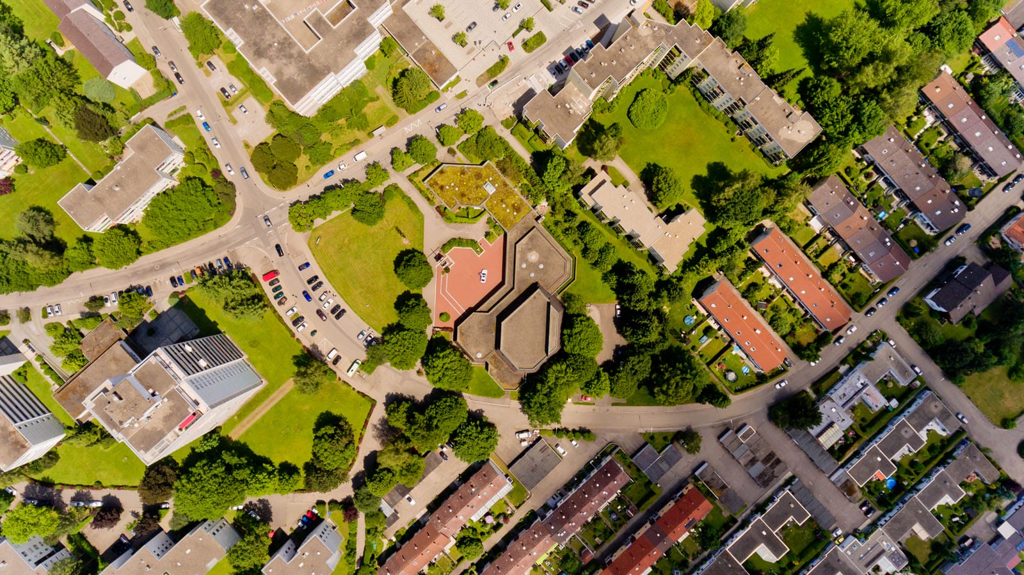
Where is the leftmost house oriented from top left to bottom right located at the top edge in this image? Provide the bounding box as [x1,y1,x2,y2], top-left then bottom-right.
[59,8,145,87]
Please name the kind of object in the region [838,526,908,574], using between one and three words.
house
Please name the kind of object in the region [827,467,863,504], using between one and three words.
building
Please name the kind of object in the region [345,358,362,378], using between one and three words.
vehicle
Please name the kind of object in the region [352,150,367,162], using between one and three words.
vehicle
